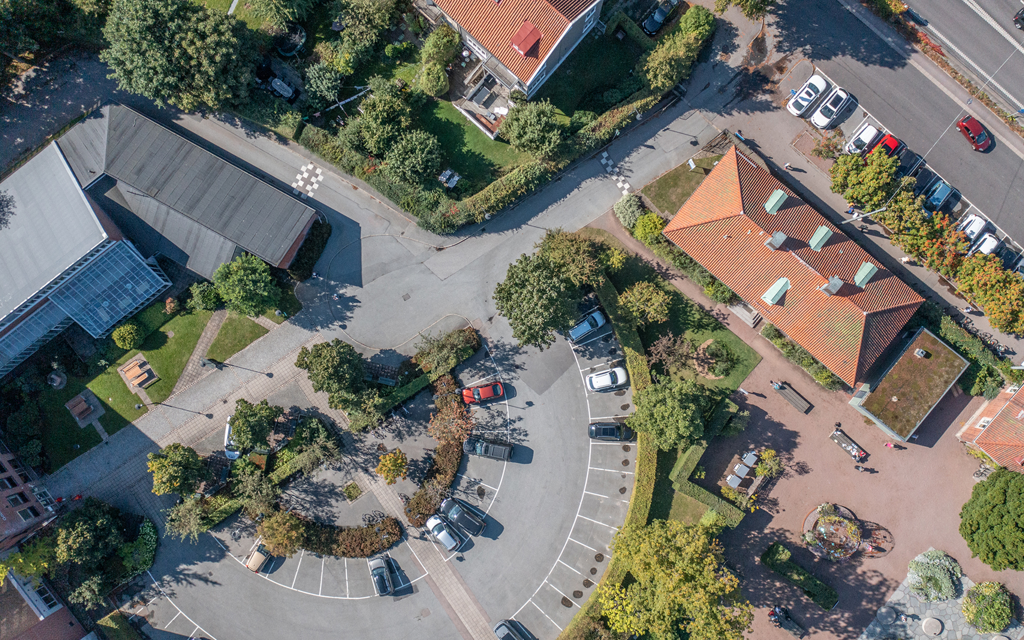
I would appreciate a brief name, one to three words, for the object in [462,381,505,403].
car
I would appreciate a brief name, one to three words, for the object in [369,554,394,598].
car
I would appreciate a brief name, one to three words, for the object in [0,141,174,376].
building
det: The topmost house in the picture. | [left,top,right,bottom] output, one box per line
[413,0,608,96]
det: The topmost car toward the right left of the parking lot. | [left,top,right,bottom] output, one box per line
[642,0,680,36]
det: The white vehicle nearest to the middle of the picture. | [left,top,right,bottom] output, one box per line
[585,367,629,390]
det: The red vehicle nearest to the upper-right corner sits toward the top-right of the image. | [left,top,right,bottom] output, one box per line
[953,111,990,155]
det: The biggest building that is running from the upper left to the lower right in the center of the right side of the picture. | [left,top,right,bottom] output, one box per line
[663,145,925,388]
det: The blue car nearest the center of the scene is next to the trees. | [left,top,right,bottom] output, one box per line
[564,310,608,344]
